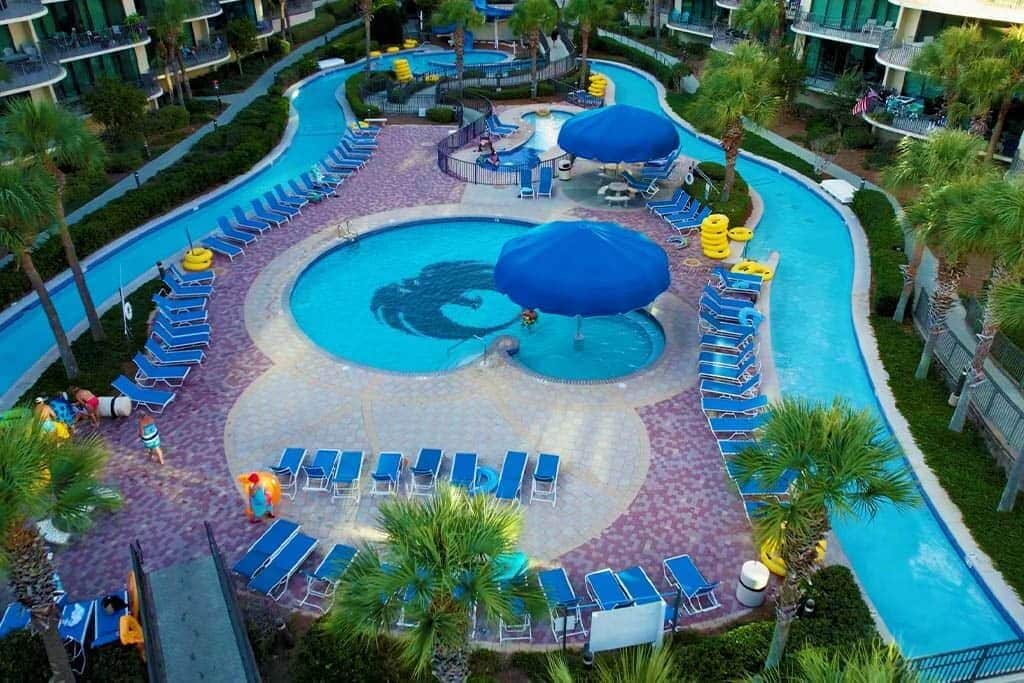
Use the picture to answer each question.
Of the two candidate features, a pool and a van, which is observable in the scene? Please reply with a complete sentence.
It is a pool that can be seen here.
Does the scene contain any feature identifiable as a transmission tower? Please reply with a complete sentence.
No, no transmission tower is visible in the view.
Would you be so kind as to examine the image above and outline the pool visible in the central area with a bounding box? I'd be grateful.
[289,217,665,383]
